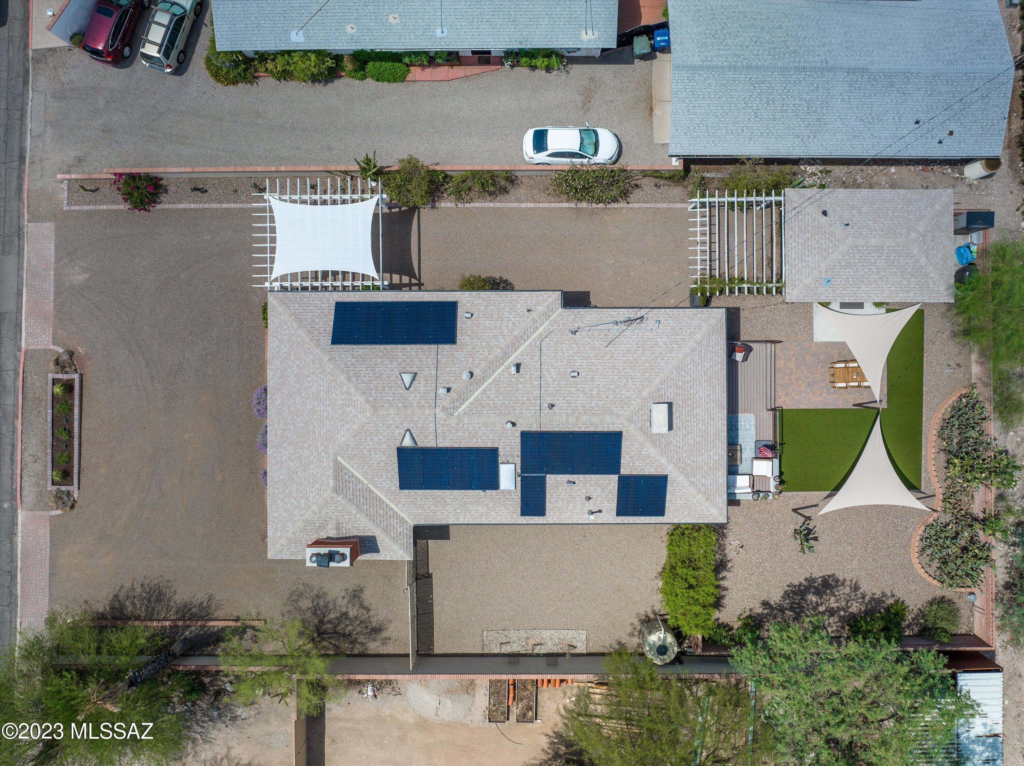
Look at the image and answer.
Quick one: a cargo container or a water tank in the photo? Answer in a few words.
water tank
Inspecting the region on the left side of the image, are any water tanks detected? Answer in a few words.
No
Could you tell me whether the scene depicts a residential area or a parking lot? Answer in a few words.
residential area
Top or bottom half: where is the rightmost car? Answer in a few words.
top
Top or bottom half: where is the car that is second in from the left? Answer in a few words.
top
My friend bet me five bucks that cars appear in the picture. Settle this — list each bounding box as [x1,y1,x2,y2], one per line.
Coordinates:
[137,0,205,78]
[80,0,153,69]
[522,119,618,166]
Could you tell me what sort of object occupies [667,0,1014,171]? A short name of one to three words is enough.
house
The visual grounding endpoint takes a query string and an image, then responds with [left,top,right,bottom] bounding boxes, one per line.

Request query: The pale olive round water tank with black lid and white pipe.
[636,614,677,663]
